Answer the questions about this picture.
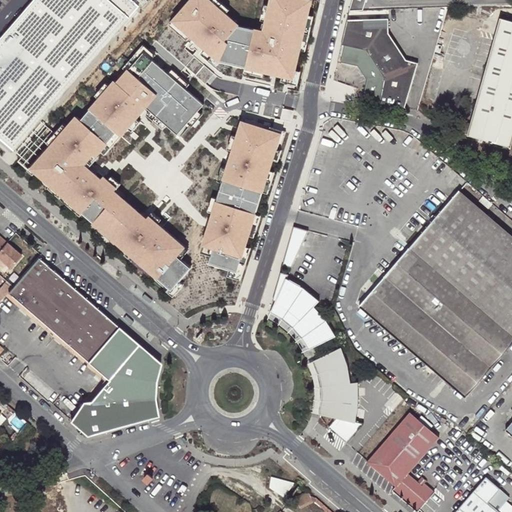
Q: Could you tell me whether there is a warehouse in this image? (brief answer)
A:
Yes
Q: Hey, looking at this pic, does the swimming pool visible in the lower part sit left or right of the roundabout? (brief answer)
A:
left of it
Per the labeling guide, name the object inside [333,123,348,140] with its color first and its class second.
white vehicle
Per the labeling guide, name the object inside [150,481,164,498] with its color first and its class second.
white vehicle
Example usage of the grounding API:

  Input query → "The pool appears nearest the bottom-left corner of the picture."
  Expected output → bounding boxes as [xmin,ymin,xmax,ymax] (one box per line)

[8,412,29,434]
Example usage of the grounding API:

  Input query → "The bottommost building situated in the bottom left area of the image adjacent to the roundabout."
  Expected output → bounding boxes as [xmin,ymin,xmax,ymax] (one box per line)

[72,328,163,438]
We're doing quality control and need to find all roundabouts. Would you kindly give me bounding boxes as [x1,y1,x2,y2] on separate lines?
[176,338,292,456]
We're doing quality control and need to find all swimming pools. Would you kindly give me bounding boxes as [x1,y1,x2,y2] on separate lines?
[8,412,29,434]
[101,62,111,72]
